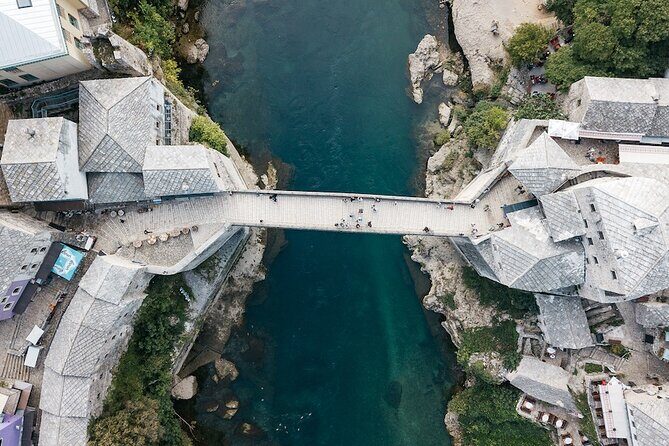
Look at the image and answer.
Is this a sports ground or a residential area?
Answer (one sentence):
It's a residential area.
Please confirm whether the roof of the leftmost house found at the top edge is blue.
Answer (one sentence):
No, the roof of the leftmost house found at the top edge is actually white.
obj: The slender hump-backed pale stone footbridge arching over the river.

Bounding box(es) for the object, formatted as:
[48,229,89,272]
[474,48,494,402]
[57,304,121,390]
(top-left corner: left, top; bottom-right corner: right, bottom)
[223,189,472,240]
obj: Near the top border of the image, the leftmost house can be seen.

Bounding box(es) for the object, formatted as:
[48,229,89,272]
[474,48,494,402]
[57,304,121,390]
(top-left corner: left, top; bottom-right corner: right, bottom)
[0,0,89,87]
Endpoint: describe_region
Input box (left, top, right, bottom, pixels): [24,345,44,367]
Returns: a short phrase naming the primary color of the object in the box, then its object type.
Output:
white umbrella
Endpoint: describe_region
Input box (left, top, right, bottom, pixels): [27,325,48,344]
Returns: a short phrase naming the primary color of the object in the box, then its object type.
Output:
white umbrella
